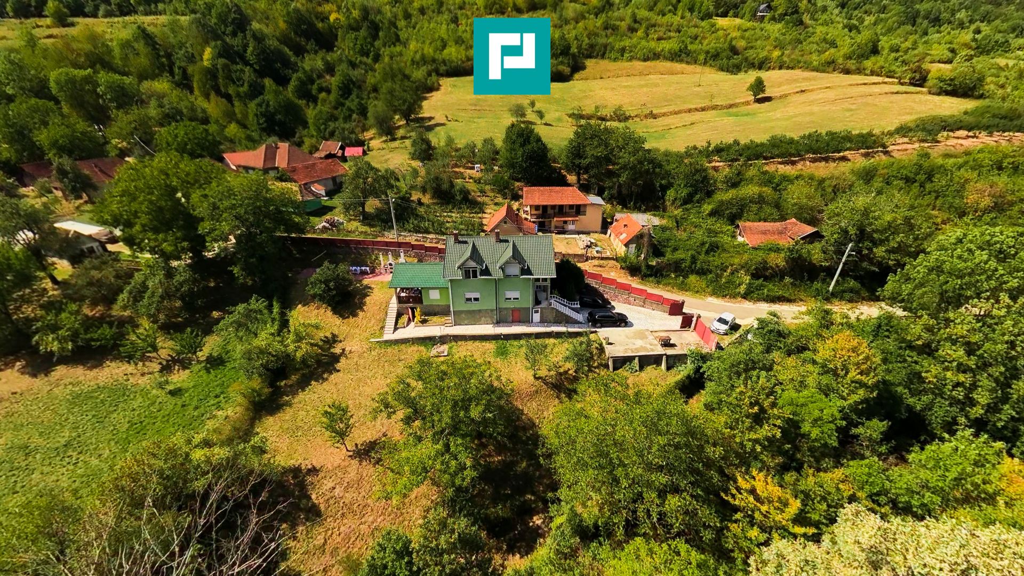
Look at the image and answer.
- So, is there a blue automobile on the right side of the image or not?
No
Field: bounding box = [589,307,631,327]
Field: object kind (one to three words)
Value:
car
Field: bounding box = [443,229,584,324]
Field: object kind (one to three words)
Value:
building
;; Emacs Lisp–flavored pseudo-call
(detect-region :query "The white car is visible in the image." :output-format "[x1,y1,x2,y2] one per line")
[710,308,733,334]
